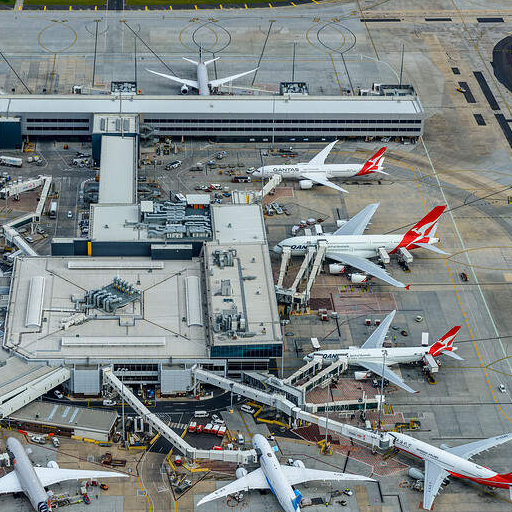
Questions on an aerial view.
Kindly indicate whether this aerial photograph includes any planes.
Yes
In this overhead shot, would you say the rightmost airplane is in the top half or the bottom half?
bottom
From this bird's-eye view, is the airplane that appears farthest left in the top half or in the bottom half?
bottom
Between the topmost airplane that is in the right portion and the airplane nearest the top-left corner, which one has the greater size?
the topmost airplane that is in the right portion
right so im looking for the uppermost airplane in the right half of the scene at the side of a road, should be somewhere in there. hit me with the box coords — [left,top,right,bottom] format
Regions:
[252,139,392,191]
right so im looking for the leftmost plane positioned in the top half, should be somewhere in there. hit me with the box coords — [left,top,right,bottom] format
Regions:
[146,38,258,94]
